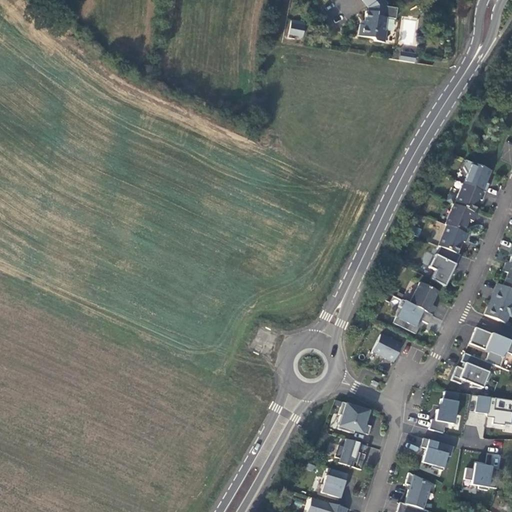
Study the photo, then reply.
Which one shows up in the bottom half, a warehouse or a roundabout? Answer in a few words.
roundabout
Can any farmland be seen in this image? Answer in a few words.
Yes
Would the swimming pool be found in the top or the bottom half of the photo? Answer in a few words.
top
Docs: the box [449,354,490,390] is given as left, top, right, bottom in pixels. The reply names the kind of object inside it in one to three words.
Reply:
house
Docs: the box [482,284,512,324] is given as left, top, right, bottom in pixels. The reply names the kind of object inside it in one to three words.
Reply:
house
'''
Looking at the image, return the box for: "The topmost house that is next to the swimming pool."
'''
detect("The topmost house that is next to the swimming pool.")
[356,0,398,45]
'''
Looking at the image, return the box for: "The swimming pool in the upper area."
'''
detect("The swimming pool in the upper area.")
[400,17,419,46]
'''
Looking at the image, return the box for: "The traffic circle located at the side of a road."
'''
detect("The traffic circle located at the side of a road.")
[270,300,352,420]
